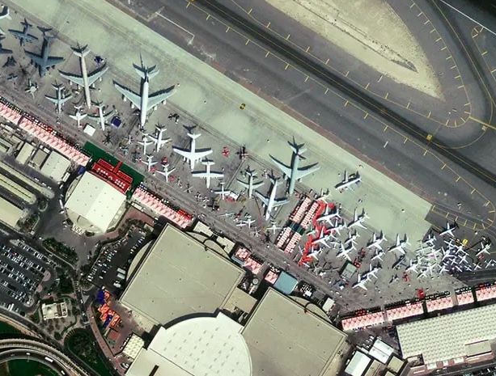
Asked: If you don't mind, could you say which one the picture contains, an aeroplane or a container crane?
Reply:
aeroplane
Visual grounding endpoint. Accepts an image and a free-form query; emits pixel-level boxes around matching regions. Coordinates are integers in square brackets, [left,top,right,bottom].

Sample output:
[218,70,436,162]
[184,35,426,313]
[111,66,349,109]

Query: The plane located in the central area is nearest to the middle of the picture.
[235,170,264,198]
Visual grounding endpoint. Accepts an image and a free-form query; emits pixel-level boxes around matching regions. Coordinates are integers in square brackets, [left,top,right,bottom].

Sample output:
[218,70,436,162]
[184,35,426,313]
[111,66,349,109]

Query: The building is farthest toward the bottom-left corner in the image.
[43,303,67,320]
